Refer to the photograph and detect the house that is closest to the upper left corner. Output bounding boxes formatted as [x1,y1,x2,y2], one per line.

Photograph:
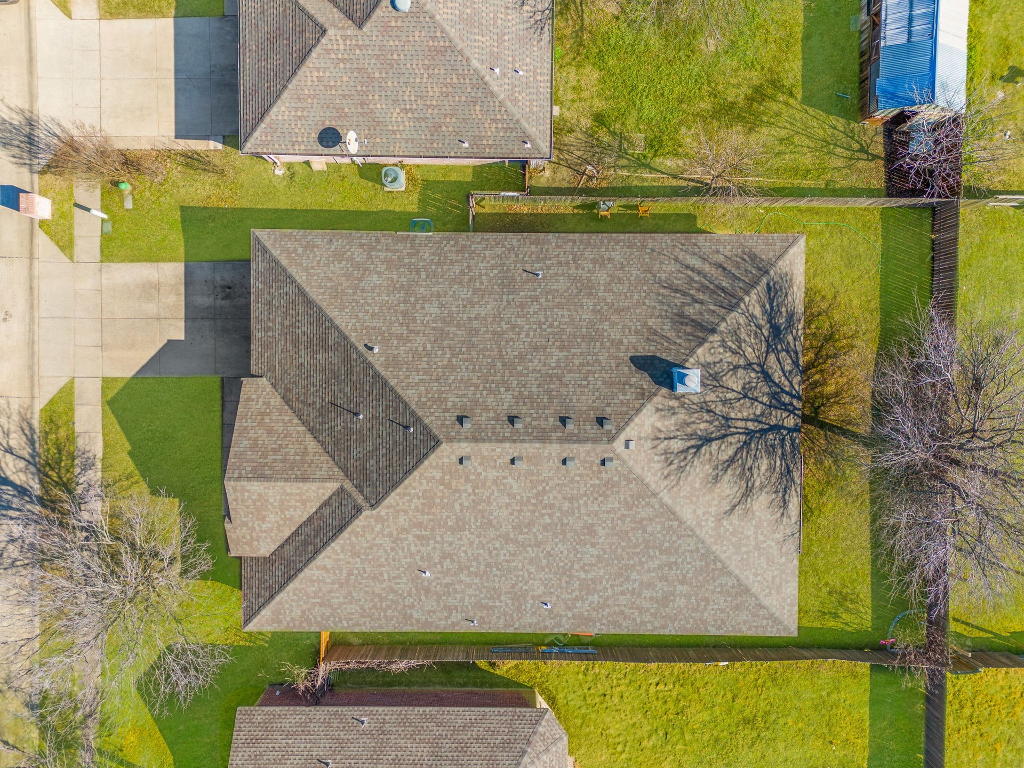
[234,0,559,169]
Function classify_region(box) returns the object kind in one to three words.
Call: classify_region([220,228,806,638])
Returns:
house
